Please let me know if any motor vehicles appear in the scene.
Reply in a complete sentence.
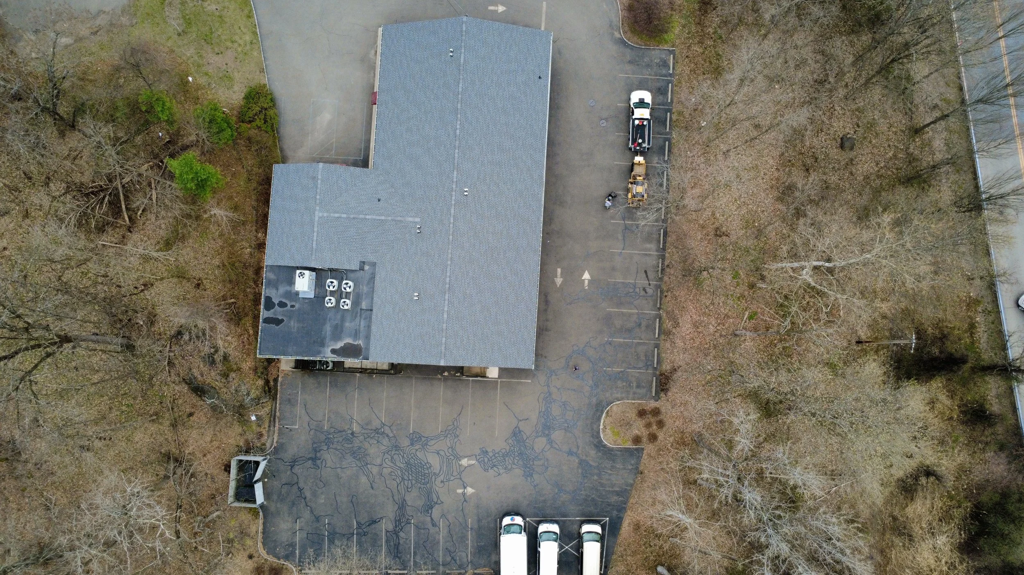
Yes, a motor vehicle is visible in the scene.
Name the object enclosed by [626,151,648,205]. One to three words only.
trailer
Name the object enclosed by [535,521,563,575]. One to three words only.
van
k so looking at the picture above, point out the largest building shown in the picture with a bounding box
[256,15,554,370]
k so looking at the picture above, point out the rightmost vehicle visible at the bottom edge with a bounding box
[578,522,606,575]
